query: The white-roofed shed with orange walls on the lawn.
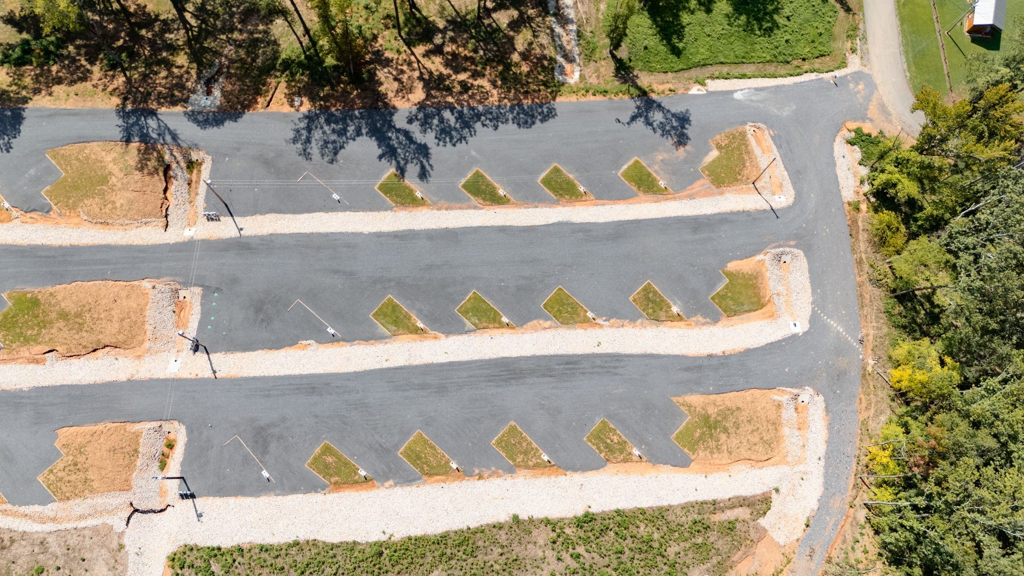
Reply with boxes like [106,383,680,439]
[958,0,1007,37]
